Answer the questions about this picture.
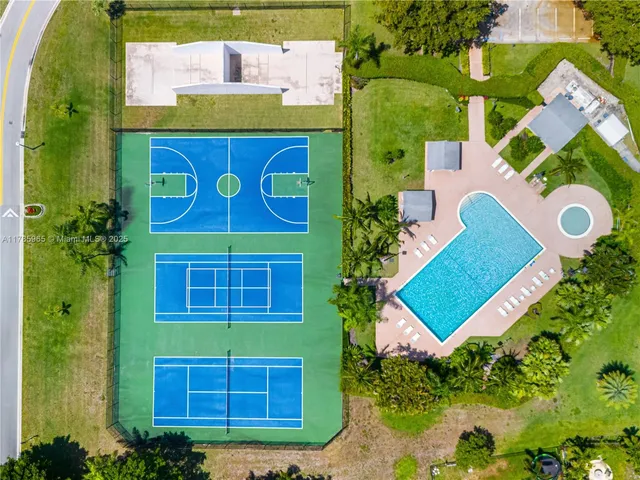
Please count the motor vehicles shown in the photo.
none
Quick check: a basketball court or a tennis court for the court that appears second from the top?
basketball court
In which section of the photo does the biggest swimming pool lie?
right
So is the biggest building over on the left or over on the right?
right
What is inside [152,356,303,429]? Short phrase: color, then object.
blue tennis court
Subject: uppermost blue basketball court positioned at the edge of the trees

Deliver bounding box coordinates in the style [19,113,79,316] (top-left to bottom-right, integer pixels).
[149,136,309,234]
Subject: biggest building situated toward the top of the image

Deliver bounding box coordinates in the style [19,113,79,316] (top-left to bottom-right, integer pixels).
[524,92,589,154]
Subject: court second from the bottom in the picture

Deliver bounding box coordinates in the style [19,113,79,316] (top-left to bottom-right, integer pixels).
[154,252,303,323]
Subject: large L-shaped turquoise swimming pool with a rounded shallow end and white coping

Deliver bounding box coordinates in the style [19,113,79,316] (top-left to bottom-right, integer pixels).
[395,191,545,343]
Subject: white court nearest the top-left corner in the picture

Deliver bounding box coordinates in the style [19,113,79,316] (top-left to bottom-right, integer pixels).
[126,39,342,106]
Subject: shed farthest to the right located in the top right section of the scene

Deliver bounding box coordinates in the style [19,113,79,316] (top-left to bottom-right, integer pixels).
[591,114,628,148]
